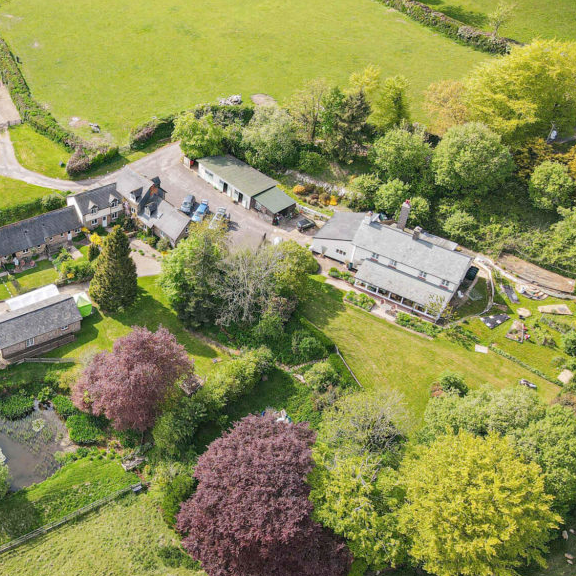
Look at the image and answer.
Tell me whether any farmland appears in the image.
Yes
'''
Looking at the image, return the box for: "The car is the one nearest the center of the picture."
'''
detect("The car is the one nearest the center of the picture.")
[294,210,320,231]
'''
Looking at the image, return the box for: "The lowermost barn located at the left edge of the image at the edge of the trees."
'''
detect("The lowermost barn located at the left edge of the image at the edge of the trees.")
[0,293,82,358]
